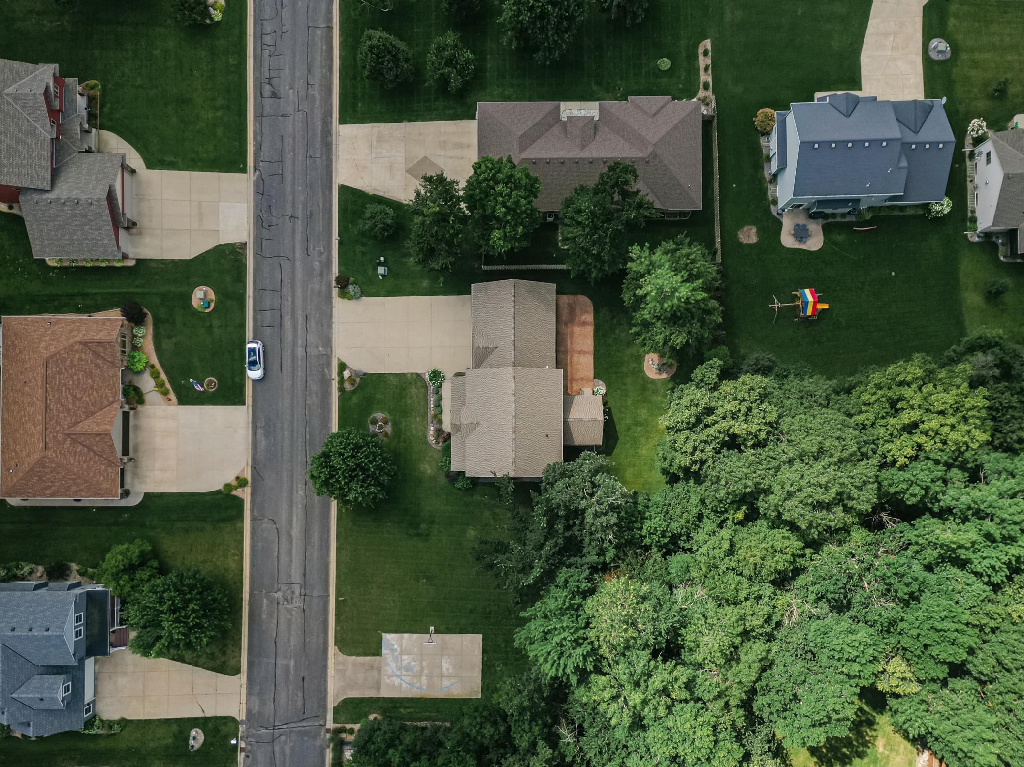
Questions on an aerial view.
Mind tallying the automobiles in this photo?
1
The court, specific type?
basketball court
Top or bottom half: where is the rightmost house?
top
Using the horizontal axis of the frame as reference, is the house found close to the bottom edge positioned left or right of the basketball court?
to its left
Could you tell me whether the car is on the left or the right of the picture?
left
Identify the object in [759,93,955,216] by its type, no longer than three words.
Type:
house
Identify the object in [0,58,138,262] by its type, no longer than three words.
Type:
house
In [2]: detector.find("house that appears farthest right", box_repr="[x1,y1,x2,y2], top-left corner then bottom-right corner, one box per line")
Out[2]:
[963,128,1024,254]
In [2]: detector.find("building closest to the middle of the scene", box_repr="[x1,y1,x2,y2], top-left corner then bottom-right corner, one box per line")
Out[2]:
[451,279,604,478]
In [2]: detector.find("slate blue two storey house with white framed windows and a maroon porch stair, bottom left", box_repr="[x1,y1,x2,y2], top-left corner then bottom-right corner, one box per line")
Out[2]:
[0,580,132,737]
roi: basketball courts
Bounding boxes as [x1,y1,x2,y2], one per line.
[381,633,485,698]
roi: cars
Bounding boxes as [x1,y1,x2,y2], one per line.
[245,339,266,379]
